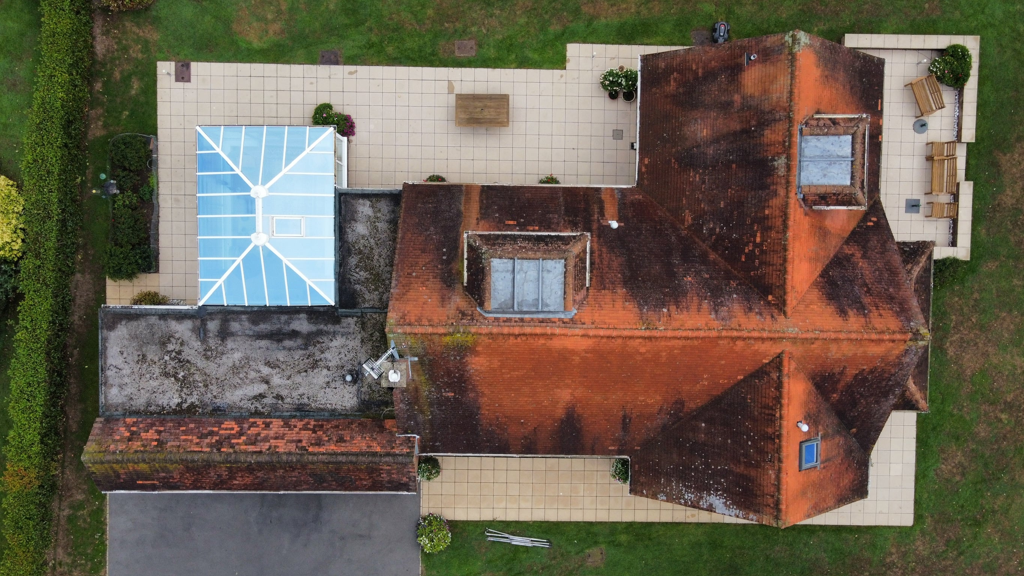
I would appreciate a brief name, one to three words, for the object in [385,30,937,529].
house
